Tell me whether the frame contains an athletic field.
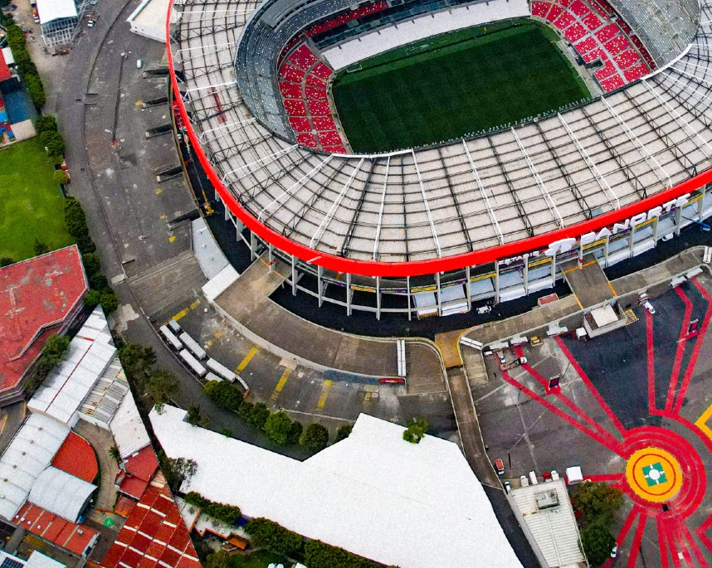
Yes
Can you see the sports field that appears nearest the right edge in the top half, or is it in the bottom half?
top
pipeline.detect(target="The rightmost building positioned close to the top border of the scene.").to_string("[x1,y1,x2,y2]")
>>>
[128,0,181,55]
